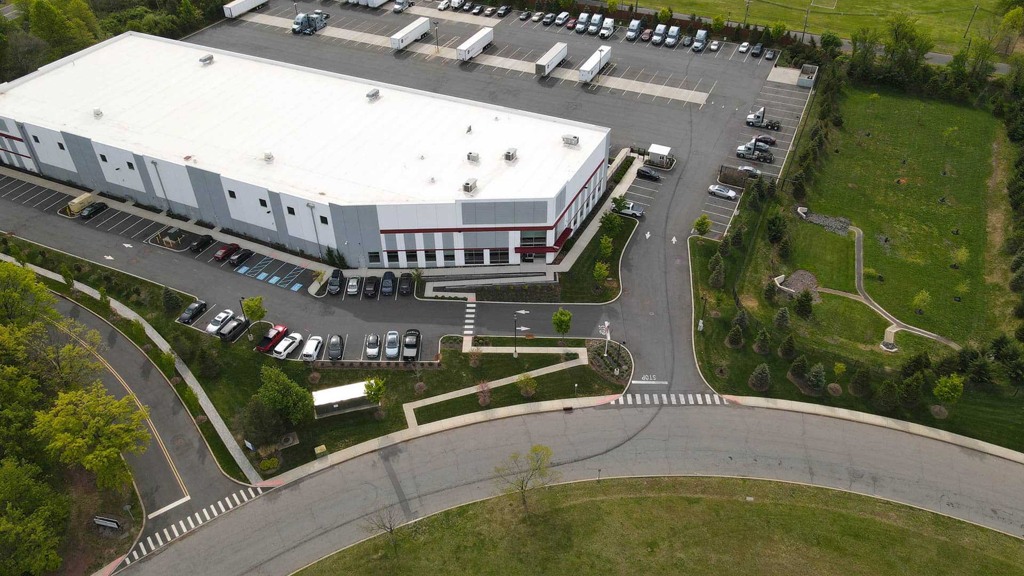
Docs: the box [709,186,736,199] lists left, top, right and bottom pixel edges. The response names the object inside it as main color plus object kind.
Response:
gray vehicle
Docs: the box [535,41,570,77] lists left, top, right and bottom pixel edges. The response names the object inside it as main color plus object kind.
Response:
white trailer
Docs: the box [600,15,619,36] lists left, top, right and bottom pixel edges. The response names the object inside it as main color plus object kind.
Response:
white vehicle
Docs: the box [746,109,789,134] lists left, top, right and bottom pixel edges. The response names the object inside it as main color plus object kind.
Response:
gray truck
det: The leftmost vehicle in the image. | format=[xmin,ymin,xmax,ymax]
[79,201,107,218]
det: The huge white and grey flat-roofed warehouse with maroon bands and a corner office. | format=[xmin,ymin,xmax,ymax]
[0,31,611,269]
